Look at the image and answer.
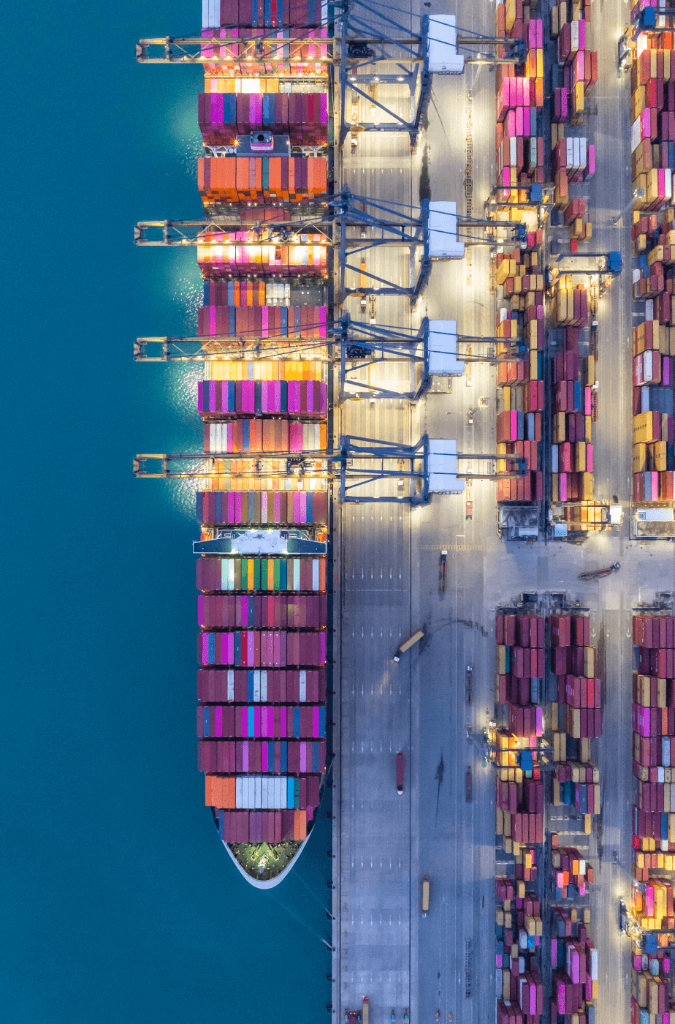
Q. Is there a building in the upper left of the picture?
No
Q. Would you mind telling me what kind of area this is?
port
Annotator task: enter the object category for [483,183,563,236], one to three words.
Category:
container crane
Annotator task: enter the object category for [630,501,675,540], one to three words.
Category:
building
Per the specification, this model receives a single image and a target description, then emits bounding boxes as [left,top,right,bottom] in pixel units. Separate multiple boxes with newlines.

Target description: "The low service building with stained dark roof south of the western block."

[499,504,539,539]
